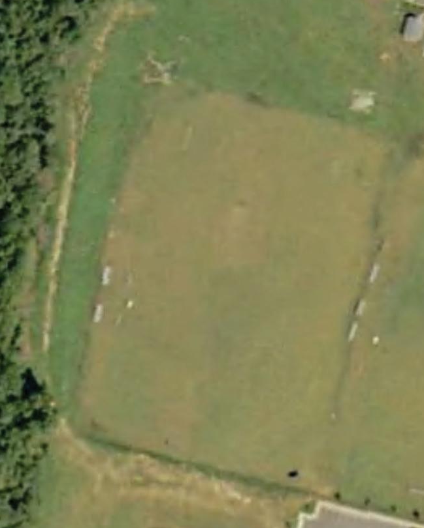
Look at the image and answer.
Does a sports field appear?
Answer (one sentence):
Yes, this view includes a sports field.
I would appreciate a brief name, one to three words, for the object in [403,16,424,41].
shed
